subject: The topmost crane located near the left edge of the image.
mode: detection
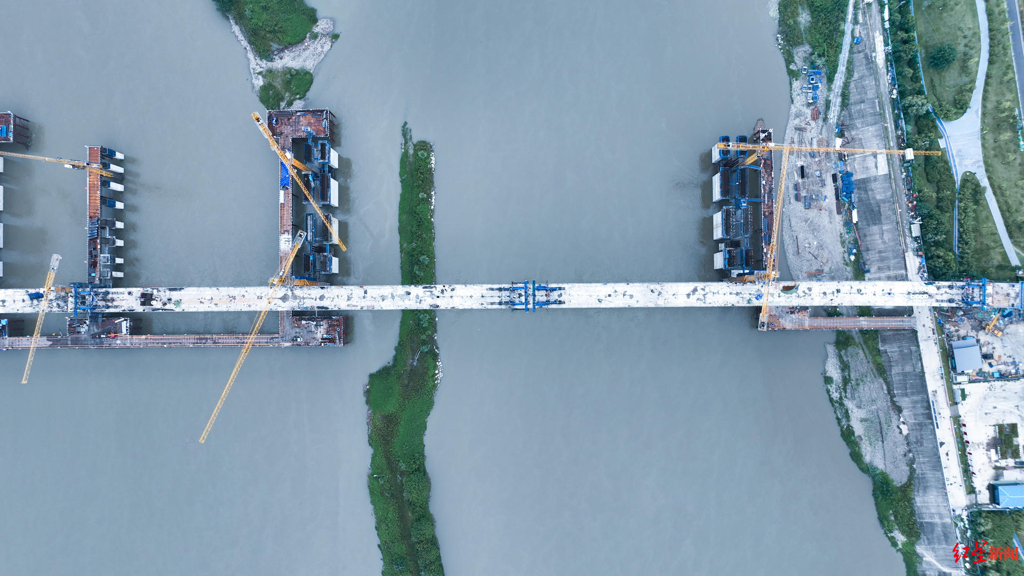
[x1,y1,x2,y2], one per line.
[0,152,128,179]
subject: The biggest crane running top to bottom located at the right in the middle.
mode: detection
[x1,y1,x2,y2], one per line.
[723,152,788,330]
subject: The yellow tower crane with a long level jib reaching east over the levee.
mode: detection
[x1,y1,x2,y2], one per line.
[718,139,943,171]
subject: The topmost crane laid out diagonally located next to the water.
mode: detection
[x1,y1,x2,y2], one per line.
[248,111,347,251]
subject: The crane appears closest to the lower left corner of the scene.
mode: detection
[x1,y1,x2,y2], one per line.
[21,254,134,384]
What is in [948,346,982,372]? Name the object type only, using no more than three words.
building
